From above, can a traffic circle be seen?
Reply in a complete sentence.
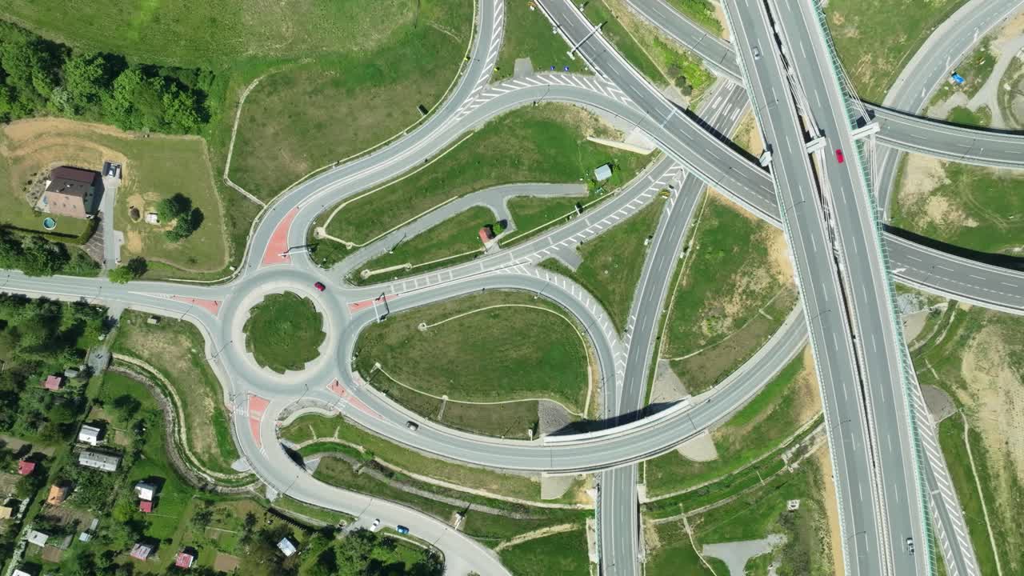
Yes, a traffic circle is visible in the scene.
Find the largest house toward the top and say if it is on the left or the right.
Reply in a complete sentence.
It is on the left.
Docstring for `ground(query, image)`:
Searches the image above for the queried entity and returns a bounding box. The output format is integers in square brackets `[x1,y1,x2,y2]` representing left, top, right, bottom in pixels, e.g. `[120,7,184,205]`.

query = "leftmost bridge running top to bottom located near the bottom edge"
[597,487,639,576]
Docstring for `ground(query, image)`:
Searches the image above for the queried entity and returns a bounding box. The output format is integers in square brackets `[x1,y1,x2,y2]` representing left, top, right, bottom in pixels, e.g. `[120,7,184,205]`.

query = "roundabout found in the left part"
[215,263,352,401]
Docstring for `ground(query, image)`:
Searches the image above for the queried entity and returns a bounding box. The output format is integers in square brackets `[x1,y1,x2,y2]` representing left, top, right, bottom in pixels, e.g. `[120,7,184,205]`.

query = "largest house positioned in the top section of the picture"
[41,162,105,220]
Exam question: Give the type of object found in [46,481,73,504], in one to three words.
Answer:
house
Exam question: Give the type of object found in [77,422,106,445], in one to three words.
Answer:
house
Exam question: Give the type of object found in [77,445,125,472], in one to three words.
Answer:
shed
